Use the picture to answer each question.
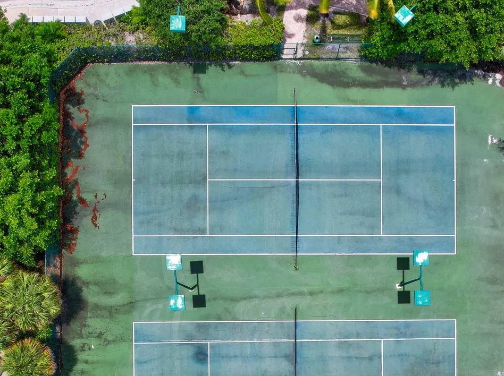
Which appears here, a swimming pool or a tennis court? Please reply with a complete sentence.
Of the two, only a tennis court appears.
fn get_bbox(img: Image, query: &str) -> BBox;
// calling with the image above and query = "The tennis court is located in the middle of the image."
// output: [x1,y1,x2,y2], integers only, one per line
[132,105,456,255]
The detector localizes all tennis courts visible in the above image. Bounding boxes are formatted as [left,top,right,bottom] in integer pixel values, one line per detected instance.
[132,105,456,255]
[133,319,457,376]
